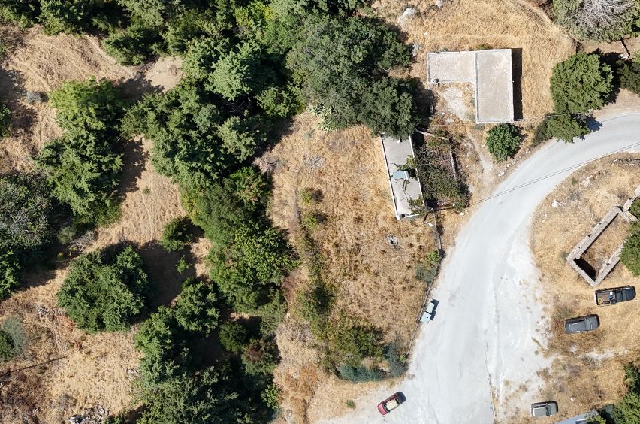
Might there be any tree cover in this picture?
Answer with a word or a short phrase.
Yes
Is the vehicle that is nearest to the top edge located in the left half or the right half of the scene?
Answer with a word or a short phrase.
right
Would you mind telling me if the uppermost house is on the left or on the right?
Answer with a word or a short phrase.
right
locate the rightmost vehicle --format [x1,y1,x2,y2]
[593,285,634,305]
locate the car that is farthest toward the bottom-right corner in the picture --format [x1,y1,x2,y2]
[528,399,558,417]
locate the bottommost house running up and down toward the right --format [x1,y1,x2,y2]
[382,133,425,221]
